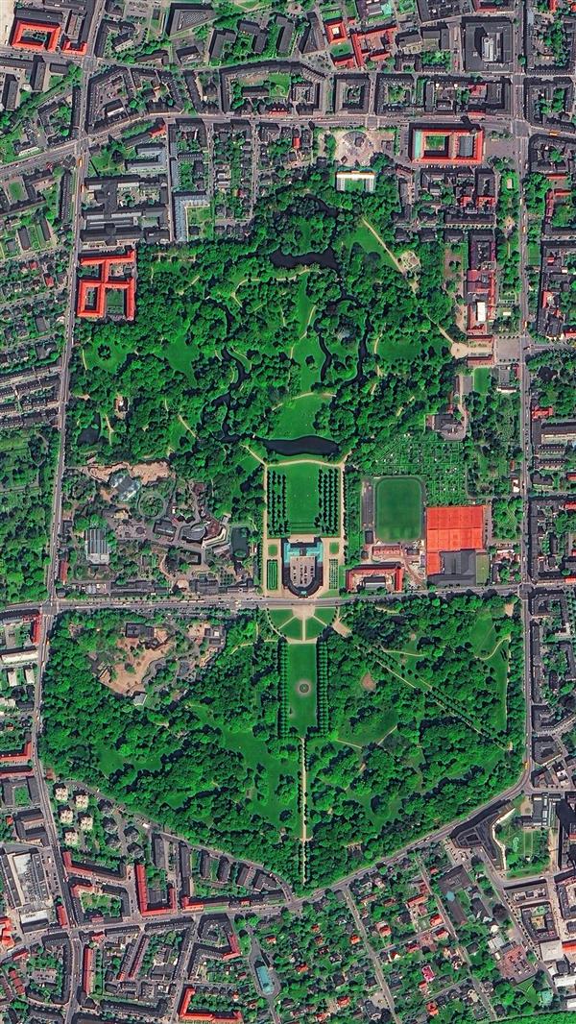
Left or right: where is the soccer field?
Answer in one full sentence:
The soccer field is on the right side of the image.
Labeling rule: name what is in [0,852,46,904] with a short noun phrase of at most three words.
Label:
building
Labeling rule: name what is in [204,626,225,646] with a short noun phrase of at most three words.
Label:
house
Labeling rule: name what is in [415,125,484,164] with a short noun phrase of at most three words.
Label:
building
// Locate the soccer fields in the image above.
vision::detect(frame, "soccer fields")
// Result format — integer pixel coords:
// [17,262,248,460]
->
[373,476,425,546]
